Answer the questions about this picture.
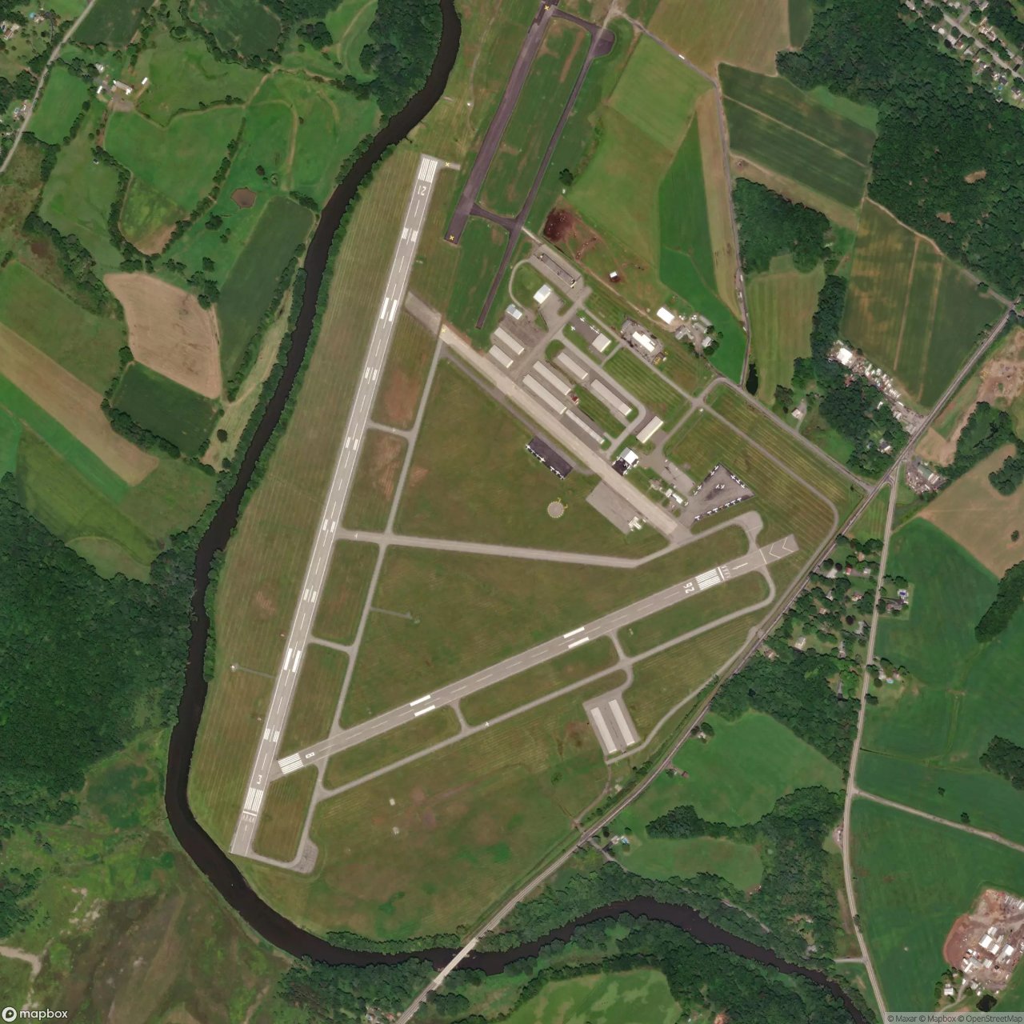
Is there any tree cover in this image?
Yes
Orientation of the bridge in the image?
diagonally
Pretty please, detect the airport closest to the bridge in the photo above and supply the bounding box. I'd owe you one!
[231,0,798,873]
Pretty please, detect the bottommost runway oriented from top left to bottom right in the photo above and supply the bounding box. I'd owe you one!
[439,323,677,534]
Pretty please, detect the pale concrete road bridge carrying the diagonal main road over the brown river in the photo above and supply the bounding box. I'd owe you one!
[426,933,483,993]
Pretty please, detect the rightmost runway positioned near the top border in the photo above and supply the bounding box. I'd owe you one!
[444,0,556,244]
